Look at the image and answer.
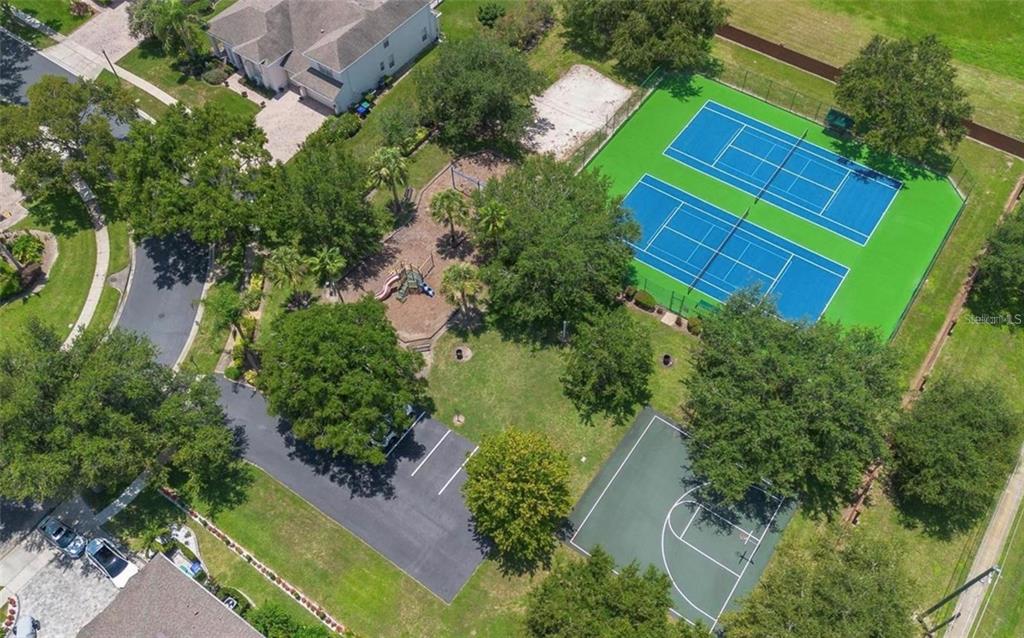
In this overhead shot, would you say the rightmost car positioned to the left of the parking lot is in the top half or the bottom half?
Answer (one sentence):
The rightmost car positioned to the left of the parking lot sits in the bottom half of the picture.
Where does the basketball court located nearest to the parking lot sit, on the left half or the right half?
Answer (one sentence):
The basketball court located nearest to the parking lot appears in the right half of the scene.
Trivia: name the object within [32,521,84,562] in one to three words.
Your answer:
car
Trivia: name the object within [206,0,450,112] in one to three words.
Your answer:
house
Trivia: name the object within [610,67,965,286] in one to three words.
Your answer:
tennis court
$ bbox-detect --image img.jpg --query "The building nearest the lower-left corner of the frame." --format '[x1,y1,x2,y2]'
[69,556,265,638]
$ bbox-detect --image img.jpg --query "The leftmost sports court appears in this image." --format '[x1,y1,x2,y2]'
[508,60,636,169]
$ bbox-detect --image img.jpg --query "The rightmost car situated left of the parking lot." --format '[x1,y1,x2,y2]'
[79,539,134,590]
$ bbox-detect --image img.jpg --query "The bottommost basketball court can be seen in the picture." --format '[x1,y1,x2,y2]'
[556,407,802,638]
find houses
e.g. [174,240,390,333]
[206,0,450,112]
[69,556,265,638]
